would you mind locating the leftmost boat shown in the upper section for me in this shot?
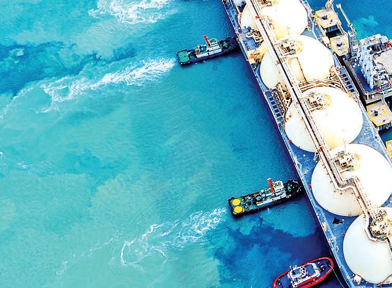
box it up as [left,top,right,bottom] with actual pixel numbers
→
[176,35,238,66]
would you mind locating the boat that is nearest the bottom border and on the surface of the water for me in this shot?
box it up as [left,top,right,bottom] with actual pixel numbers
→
[272,258,335,288]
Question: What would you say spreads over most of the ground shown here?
water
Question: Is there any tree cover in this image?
No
